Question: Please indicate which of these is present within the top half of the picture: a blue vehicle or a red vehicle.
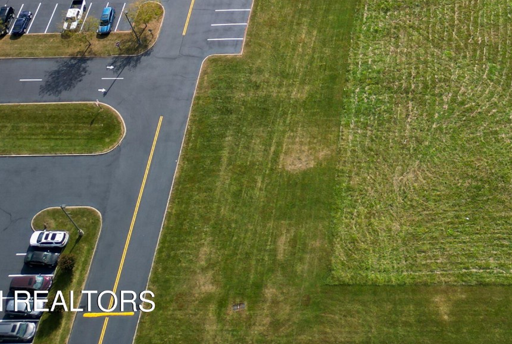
blue vehicle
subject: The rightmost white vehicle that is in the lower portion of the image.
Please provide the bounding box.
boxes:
[30,230,69,249]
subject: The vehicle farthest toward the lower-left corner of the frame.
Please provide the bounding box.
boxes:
[0,320,35,342]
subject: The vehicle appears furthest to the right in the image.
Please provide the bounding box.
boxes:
[95,7,114,33]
